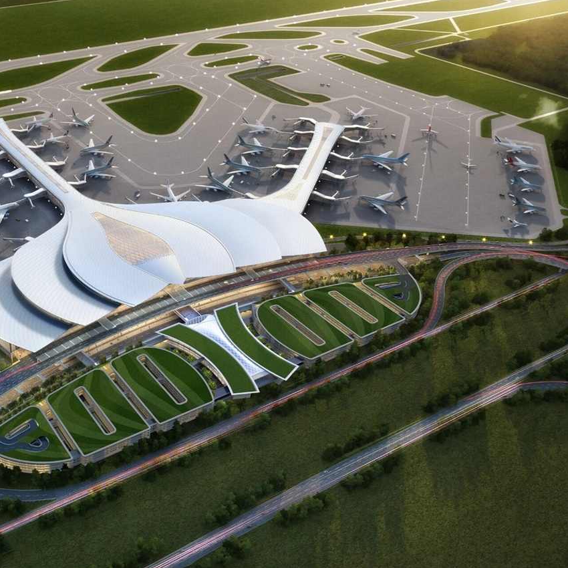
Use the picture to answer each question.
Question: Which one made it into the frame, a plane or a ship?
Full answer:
Looking from above, you can make out a plane.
